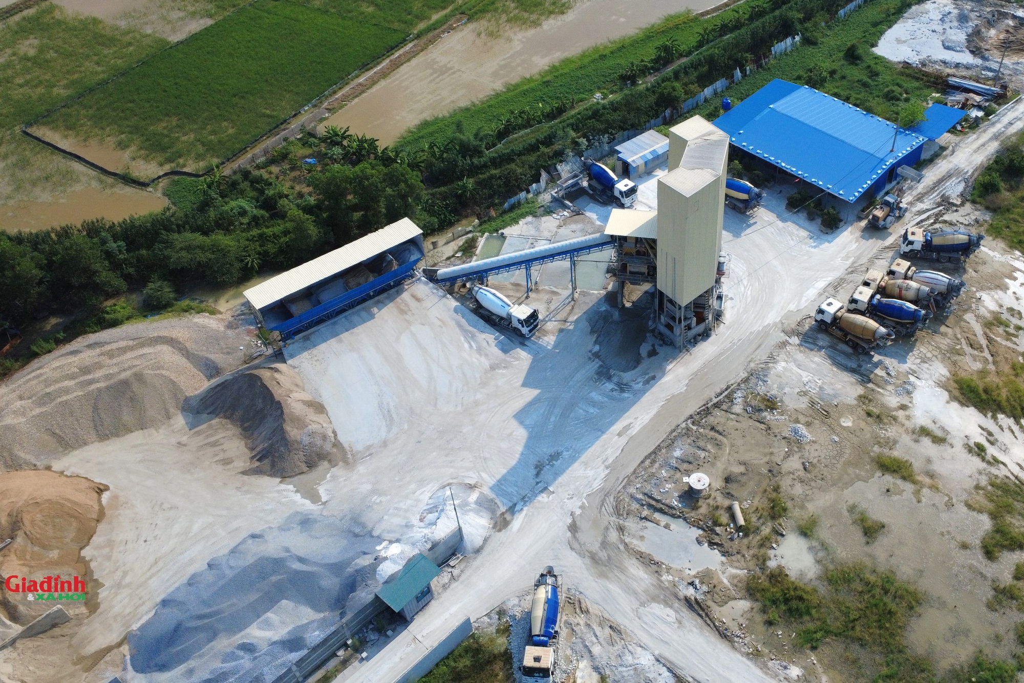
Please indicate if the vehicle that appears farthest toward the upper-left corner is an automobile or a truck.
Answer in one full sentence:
The vehicle that appears farthest toward the upper-left corner appears to be a truck.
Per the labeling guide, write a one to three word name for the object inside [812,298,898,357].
truck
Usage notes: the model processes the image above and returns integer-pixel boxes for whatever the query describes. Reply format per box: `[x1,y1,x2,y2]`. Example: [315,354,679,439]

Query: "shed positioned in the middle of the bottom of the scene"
[377,551,440,624]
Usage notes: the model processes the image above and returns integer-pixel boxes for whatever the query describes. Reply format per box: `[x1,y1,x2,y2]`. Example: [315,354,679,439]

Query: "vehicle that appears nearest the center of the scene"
[464,282,539,340]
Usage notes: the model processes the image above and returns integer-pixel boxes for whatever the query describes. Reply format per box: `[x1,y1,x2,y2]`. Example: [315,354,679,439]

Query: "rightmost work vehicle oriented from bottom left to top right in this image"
[863,171,927,233]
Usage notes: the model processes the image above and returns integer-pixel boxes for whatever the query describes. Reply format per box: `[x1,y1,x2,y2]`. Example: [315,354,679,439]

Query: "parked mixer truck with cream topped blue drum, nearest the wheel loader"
[897,227,987,265]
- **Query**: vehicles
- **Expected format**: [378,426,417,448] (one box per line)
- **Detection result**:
[579,157,642,209]
[812,298,898,357]
[863,171,927,233]
[897,227,987,265]
[725,181,768,213]
[882,255,969,308]
[517,566,563,683]
[464,282,539,340]
[844,284,933,339]
[852,266,942,313]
